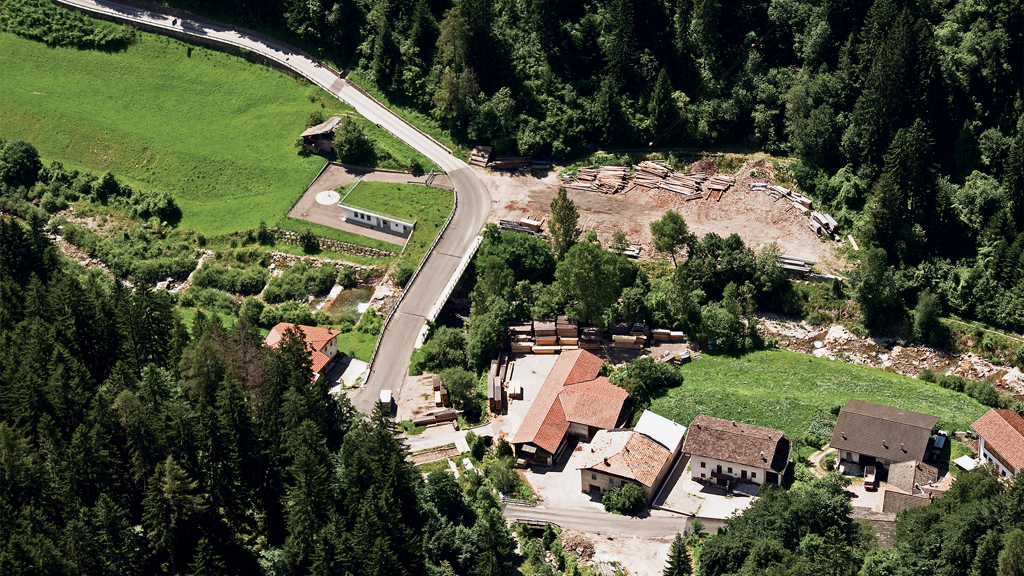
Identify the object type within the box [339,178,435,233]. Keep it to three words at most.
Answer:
building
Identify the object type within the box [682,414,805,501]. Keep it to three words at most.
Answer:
house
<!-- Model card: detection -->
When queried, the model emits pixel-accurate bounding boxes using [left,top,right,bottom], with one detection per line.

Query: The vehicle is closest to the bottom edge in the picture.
[862,466,878,490]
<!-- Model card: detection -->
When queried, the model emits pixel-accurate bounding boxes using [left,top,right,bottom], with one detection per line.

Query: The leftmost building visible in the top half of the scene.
[300,117,343,160]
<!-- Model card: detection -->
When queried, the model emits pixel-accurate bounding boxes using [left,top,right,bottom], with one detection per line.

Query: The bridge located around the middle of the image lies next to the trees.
[402,235,483,349]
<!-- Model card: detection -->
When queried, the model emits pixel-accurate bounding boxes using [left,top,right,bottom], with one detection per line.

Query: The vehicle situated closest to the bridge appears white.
[380,386,393,415]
